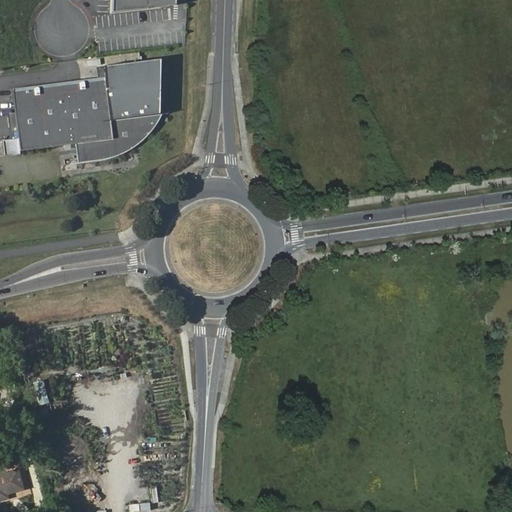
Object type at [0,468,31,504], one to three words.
house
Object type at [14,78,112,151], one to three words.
building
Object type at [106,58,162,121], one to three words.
building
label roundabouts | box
[145,178,285,315]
